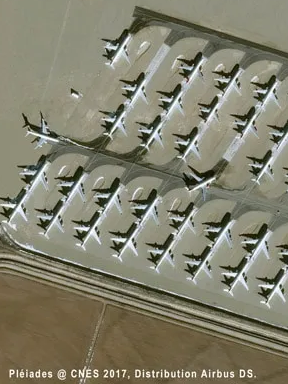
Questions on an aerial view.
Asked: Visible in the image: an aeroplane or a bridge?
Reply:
aeroplane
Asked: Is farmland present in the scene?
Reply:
Yes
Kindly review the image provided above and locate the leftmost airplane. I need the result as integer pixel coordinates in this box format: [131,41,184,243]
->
[1,195,27,225]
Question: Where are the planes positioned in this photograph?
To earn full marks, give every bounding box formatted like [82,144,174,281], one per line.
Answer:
[1,195,27,225]
[187,249,213,281]
[122,78,148,107]
[102,110,128,139]
[223,261,250,292]
[218,70,244,98]
[249,157,275,186]
[270,132,288,153]
[200,102,220,125]
[244,234,270,264]
[233,113,259,141]
[207,223,233,253]
[260,273,287,305]
[38,205,64,236]
[149,239,176,271]
[171,209,196,238]
[25,120,59,149]
[22,164,49,195]
[185,174,215,200]
[105,38,131,66]
[96,187,122,218]
[132,198,159,230]
[159,90,185,118]
[254,82,280,110]
[181,57,206,86]
[175,133,201,161]
[139,120,165,149]
[112,228,139,259]
[59,176,86,206]
[75,217,102,249]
